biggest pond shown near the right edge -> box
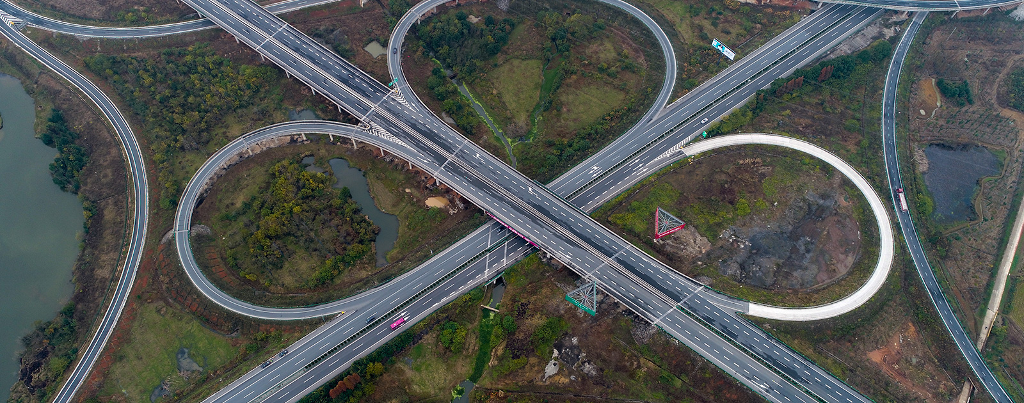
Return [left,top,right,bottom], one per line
[924,143,999,222]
